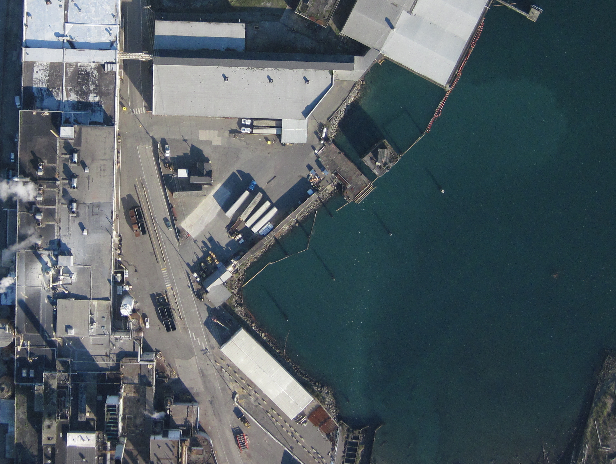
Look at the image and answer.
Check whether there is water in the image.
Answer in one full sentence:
Yes, there's water in this view.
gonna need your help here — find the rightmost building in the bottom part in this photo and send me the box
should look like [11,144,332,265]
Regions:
[220,325,313,419]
